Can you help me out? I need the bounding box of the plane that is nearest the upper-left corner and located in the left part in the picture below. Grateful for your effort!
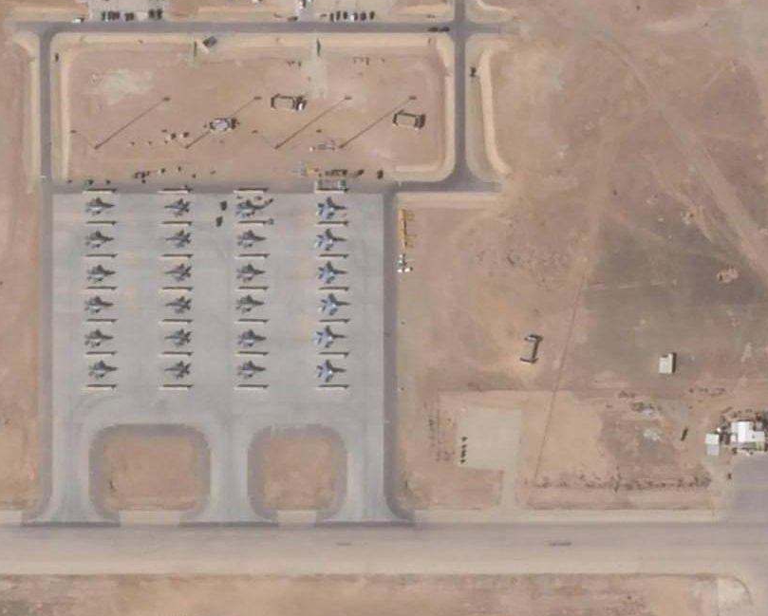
[85,198,112,217]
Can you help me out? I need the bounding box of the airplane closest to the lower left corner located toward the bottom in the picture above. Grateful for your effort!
[88,361,114,380]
